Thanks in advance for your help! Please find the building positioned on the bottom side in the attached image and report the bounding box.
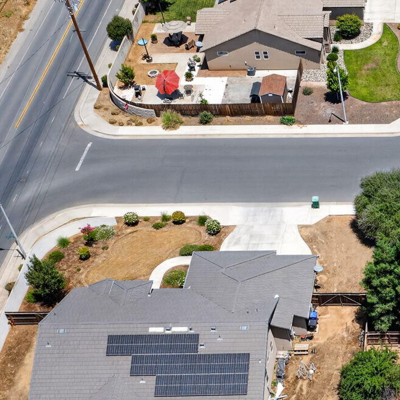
[26,250,319,400]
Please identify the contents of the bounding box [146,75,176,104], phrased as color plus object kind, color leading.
red umbrella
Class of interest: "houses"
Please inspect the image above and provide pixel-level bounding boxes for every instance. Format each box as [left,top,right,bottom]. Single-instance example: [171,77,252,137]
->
[26,250,319,400]
[195,0,367,70]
